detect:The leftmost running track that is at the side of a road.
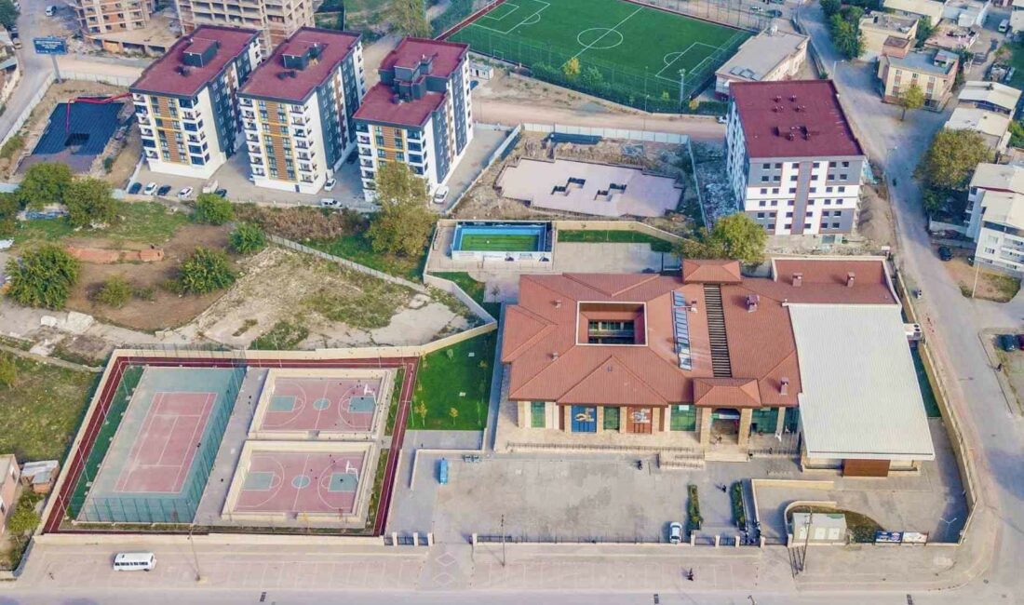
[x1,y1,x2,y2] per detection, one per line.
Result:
[41,355,420,539]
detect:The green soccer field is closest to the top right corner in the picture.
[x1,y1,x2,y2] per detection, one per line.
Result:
[454,0,757,105]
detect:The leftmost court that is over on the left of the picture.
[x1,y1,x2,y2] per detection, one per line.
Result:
[79,367,244,521]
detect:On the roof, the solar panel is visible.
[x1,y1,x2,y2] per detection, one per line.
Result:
[675,289,692,370]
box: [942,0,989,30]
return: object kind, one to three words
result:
house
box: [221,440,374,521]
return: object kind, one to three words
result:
basketball court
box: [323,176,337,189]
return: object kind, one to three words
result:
vehicle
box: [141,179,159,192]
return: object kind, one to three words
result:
vehicle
